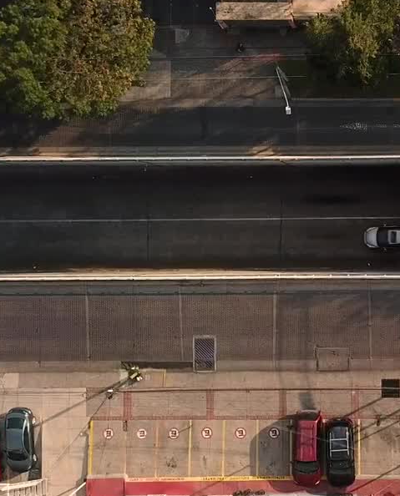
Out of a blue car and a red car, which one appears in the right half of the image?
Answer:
red car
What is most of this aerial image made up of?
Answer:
paved ground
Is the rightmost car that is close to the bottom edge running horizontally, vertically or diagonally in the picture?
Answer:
vertically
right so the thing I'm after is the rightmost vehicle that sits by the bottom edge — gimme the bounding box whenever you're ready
[324,418,357,486]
